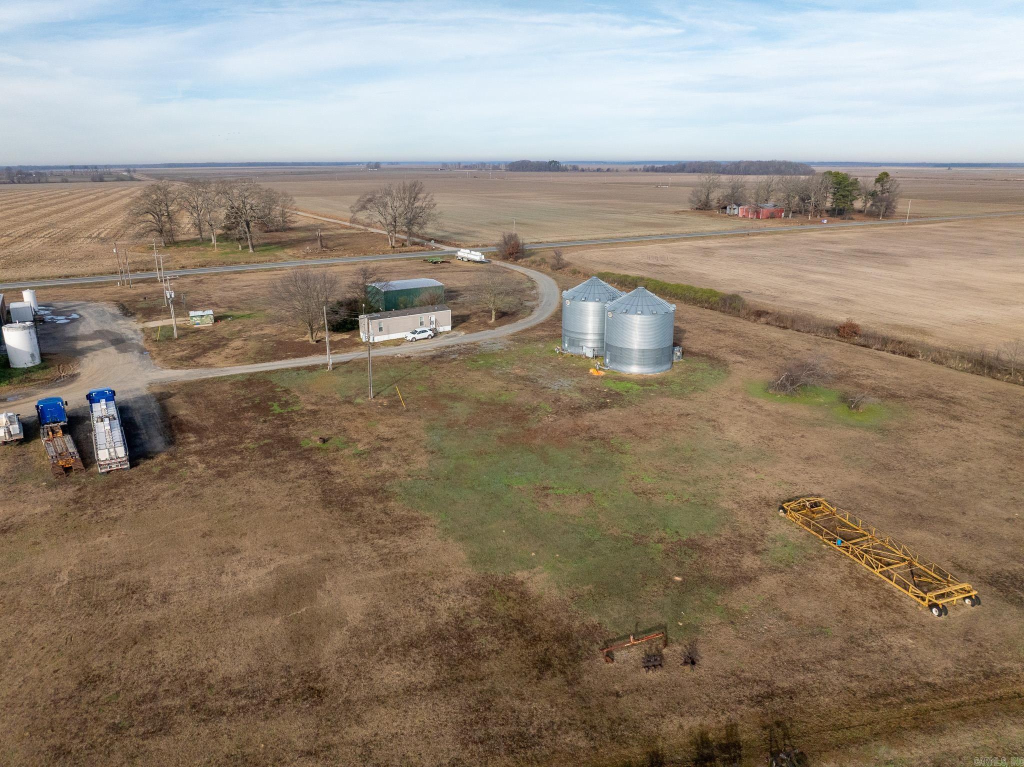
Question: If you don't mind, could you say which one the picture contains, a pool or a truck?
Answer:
truck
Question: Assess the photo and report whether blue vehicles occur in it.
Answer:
Yes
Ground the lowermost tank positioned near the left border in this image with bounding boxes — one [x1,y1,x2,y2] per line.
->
[0,319,46,369]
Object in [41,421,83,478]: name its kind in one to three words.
trailer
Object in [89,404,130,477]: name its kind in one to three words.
trailer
